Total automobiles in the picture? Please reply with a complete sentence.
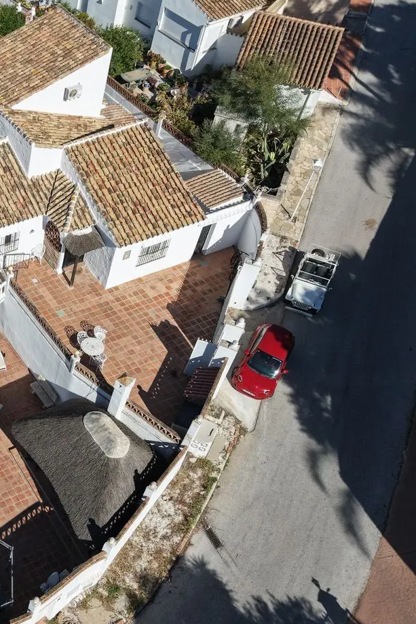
The photo contains 2 automobiles.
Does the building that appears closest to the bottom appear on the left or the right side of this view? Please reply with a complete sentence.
You can find the building that appears closest to the bottom on the left side of the picture.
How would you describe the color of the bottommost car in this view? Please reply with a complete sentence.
The bottommost car looks red in the image.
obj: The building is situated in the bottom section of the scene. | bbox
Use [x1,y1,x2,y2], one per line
[11,398,163,552]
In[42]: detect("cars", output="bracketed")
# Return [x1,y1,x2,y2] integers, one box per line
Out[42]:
[233,319,302,399]
[284,238,347,318]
